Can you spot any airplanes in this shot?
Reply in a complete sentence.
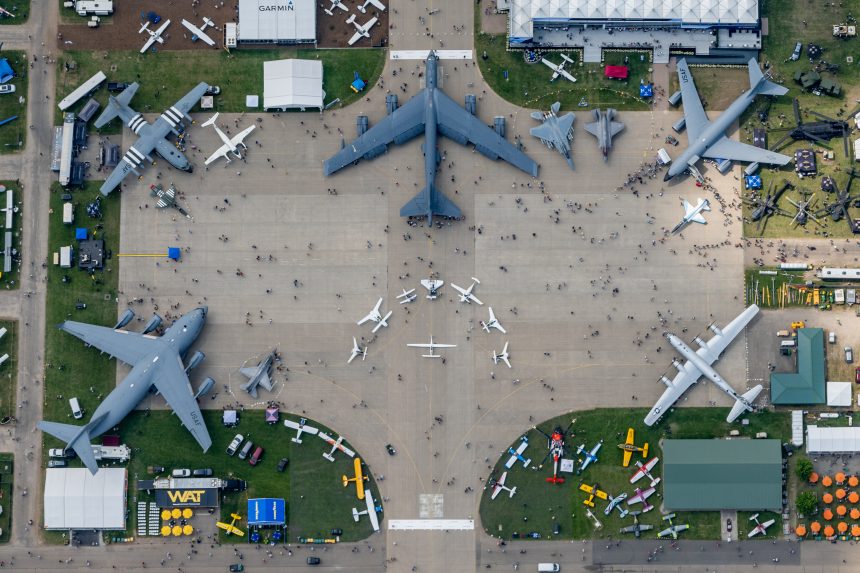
Yes, an airplane can be made out from above.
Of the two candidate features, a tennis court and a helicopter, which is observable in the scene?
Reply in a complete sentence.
I can see a helicopter in this picture.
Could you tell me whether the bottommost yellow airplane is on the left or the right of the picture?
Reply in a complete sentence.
It is on the left.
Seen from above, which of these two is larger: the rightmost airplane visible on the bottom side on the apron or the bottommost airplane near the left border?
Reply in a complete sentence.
Compared with the rightmost airplane visible on the bottom side on the apron, the bottommost airplane near the left border is the larger one.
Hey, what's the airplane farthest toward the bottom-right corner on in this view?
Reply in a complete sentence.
In this view, the airplane farthest toward the bottom-right corner is located on the grass.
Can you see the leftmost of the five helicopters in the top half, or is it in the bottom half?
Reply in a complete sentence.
It is in the bottom half that the leftmost of the five helicopters appears.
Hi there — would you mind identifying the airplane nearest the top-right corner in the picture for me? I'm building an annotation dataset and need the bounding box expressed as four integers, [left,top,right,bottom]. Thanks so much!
[663,57,794,181]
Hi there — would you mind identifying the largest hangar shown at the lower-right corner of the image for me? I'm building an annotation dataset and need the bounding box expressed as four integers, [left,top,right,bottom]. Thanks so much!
[663,439,784,513]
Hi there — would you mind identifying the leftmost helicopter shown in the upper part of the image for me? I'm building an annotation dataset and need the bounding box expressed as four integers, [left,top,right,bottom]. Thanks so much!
[738,176,796,232]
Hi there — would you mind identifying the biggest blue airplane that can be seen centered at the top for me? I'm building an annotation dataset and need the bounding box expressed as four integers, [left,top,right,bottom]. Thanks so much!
[323,50,538,224]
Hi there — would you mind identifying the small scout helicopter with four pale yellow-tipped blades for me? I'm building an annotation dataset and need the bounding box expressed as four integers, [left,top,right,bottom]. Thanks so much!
[786,184,817,224]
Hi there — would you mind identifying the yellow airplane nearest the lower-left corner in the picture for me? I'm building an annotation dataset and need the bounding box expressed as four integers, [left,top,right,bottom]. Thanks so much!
[215,513,244,538]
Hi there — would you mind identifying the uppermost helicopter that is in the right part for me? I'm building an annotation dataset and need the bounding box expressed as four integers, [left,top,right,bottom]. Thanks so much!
[774,99,860,156]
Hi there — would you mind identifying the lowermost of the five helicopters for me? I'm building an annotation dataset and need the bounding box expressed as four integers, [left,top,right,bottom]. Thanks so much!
[532,423,583,483]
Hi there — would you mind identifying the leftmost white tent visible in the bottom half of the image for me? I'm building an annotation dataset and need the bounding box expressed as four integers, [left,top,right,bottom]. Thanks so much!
[44,468,127,538]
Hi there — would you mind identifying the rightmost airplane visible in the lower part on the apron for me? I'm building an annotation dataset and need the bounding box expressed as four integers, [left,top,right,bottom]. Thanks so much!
[644,304,762,424]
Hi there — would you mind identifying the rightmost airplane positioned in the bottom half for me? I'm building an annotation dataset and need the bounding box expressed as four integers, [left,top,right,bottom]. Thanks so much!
[747,513,776,538]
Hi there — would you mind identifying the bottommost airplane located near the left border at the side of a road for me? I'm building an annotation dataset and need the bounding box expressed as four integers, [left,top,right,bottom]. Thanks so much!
[33,306,215,476]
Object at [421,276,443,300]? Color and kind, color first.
white airplane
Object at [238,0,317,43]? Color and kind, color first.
white tent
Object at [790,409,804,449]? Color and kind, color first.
white tent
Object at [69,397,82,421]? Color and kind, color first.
white vehicle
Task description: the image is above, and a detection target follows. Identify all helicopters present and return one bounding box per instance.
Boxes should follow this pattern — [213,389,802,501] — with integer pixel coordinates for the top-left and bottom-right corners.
[738,176,796,232]
[532,423,583,483]
[814,170,860,230]
[786,184,817,224]
[774,99,860,156]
